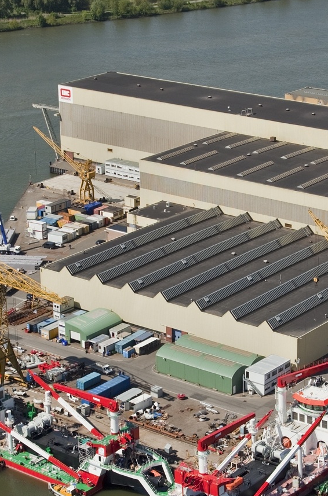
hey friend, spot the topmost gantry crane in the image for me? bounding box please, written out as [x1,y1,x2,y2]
[33,127,98,202]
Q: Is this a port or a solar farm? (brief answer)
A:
port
